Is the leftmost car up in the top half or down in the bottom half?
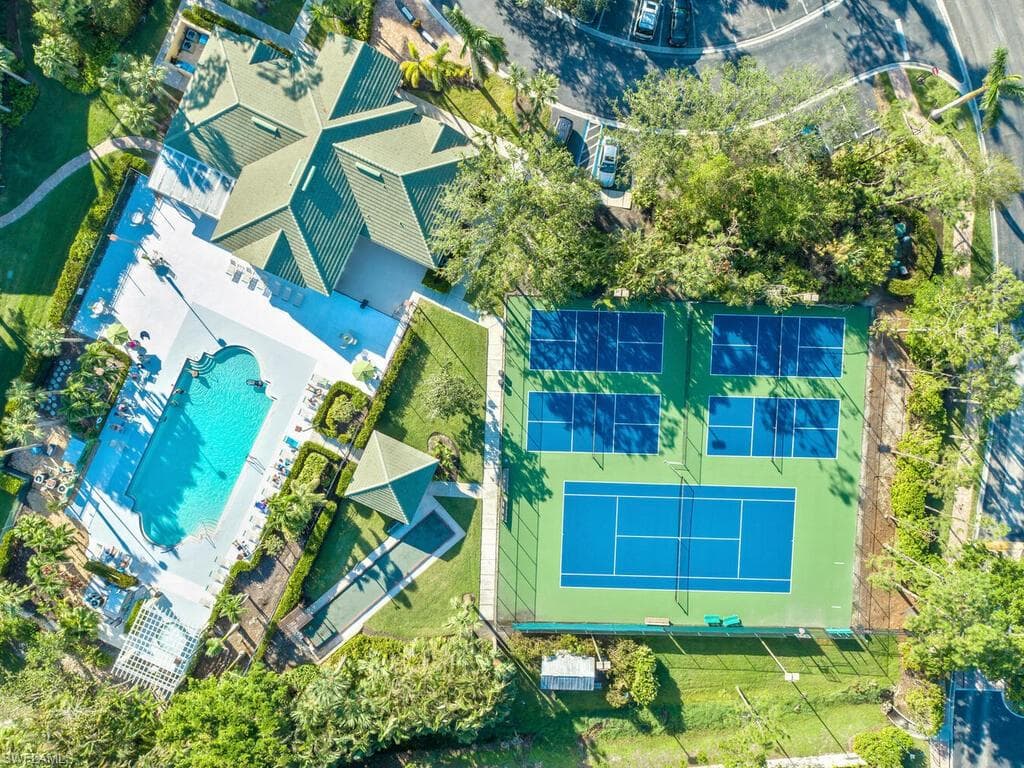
top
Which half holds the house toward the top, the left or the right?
left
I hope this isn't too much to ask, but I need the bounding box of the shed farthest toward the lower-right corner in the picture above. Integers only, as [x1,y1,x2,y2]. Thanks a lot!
[541,650,595,690]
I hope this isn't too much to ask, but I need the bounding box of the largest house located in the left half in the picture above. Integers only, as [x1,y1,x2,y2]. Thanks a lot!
[164,26,480,295]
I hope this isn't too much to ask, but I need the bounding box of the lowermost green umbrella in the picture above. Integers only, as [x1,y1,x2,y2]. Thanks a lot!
[353,358,378,383]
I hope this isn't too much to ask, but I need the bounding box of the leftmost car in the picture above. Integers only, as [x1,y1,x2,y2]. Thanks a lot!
[552,105,577,153]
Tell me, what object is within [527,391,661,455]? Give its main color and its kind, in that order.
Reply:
blue sports court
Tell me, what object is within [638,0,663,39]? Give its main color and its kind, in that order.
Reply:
blue car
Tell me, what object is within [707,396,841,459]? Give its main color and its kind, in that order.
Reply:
blue sports court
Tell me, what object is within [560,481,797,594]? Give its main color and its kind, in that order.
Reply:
blue tennis court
